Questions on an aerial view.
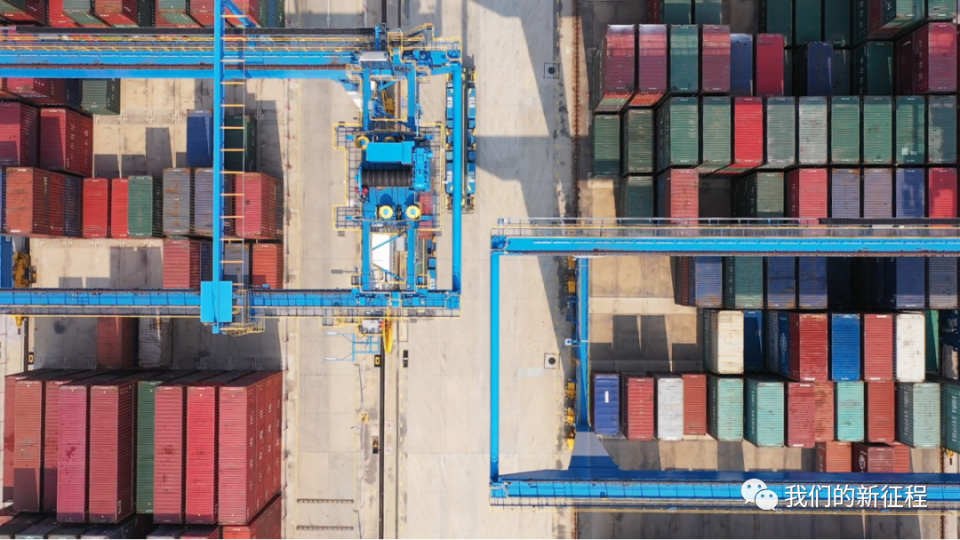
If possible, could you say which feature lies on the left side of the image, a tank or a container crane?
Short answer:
container crane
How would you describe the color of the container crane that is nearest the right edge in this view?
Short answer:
blue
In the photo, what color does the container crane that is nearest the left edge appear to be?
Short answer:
blue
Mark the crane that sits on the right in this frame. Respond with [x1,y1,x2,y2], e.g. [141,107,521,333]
[490,218,960,508]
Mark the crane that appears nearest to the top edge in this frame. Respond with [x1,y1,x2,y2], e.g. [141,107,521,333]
[0,0,462,361]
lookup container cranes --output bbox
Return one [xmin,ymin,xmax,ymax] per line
[0,0,462,361]
[490,218,960,508]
